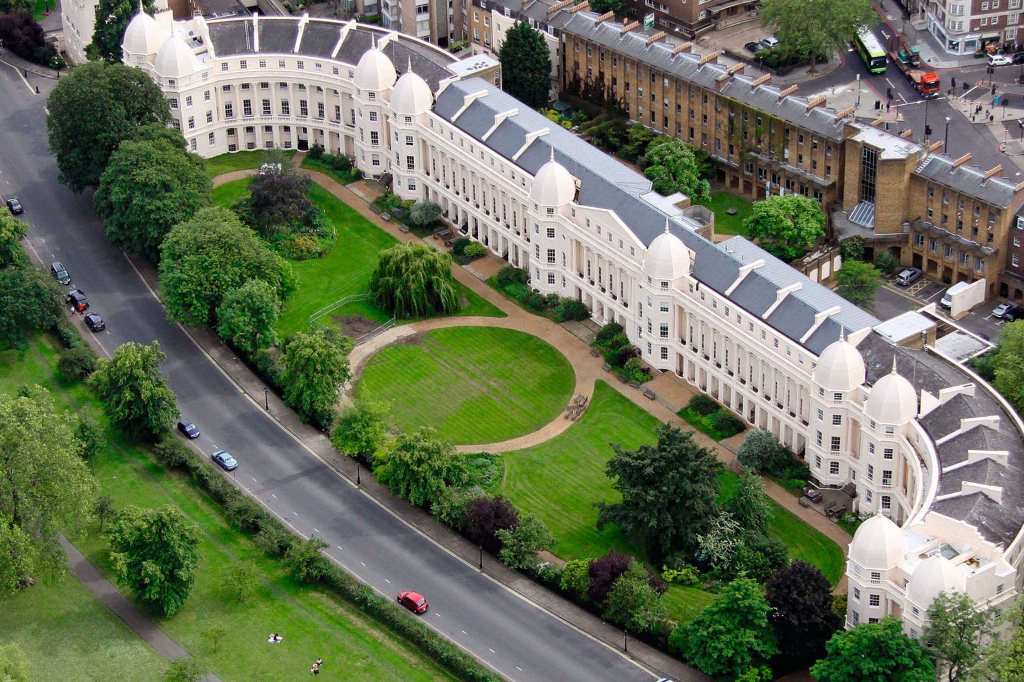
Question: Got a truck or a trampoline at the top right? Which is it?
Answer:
truck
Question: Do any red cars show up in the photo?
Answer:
Yes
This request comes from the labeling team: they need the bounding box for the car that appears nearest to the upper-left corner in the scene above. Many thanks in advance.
[6,197,23,213]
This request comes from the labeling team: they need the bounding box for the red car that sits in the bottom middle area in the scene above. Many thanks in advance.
[397,588,430,611]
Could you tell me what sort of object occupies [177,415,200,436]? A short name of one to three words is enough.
car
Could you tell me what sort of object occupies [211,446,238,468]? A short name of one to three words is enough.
car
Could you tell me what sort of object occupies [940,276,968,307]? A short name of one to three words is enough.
van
